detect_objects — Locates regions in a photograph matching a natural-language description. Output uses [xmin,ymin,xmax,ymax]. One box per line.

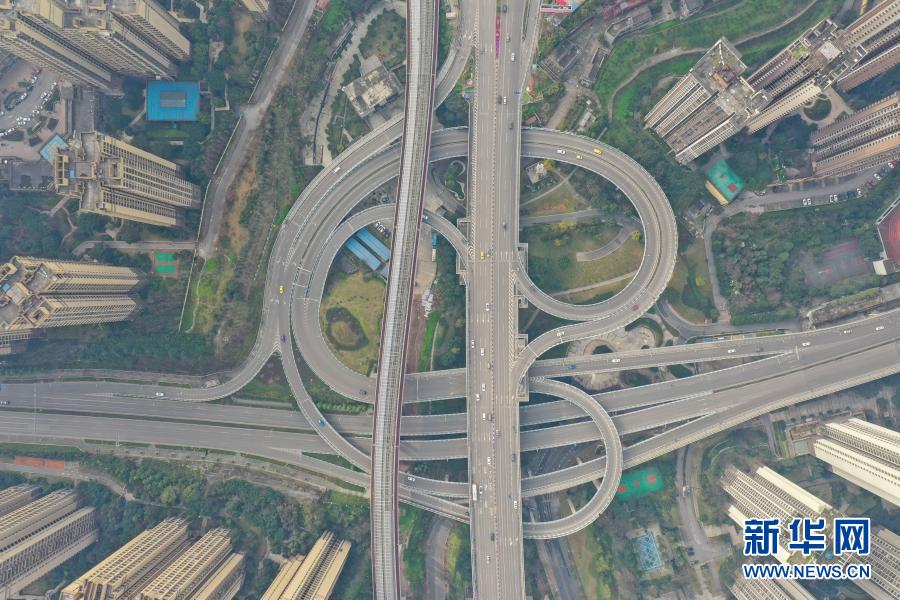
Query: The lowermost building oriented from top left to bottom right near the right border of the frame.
[722,466,860,582]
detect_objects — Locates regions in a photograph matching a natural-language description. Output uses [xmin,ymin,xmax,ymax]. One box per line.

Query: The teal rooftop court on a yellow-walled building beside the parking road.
[702,158,744,205]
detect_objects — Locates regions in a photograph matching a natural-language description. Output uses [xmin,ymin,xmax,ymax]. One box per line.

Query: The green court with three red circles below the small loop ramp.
[616,466,665,502]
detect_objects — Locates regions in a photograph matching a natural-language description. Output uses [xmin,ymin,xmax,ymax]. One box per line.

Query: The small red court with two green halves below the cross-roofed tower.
[152,250,178,277]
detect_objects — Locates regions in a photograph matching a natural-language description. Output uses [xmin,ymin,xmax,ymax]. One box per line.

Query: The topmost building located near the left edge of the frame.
[0,0,190,90]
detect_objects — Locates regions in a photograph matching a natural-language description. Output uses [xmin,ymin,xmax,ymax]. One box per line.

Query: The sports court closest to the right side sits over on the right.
[806,240,866,284]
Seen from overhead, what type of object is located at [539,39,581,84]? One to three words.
building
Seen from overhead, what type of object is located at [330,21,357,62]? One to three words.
shed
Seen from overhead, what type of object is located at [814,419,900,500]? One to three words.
building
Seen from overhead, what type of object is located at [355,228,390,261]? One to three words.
shed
